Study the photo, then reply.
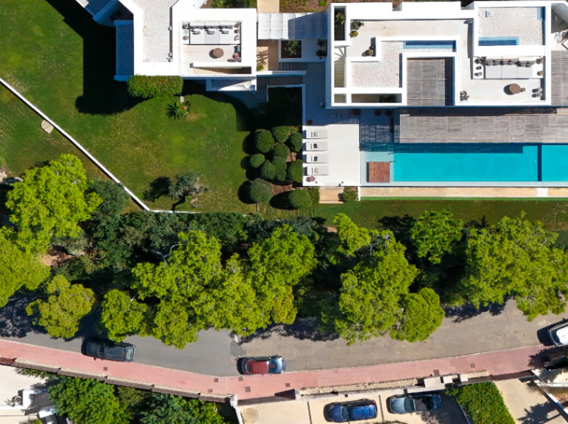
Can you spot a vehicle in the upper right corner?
No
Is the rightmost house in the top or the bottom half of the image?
top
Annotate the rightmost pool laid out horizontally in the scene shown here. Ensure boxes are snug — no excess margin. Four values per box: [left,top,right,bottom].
[360,143,568,187]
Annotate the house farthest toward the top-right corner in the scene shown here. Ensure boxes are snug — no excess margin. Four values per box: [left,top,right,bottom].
[323,0,568,144]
